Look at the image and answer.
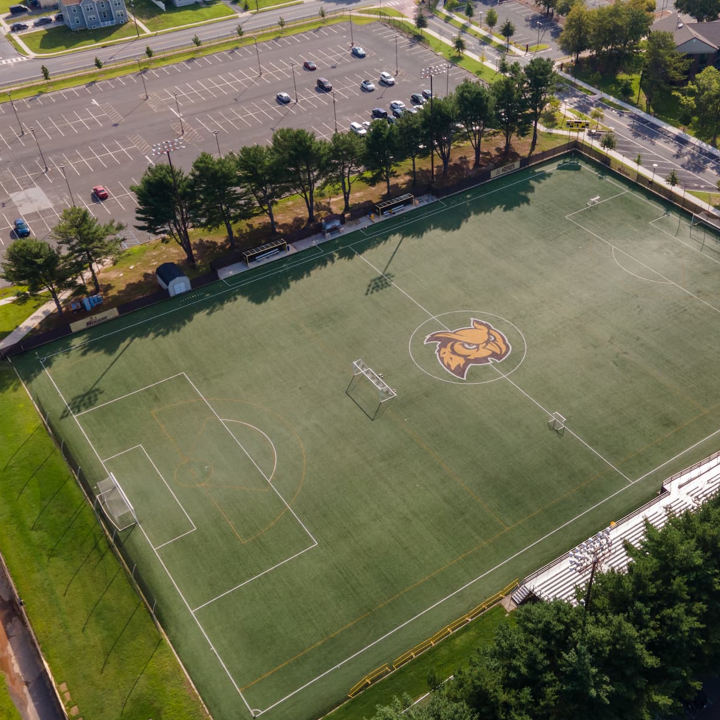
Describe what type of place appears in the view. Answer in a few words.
sports ground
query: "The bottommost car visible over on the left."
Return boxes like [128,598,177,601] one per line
[13,220,30,235]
